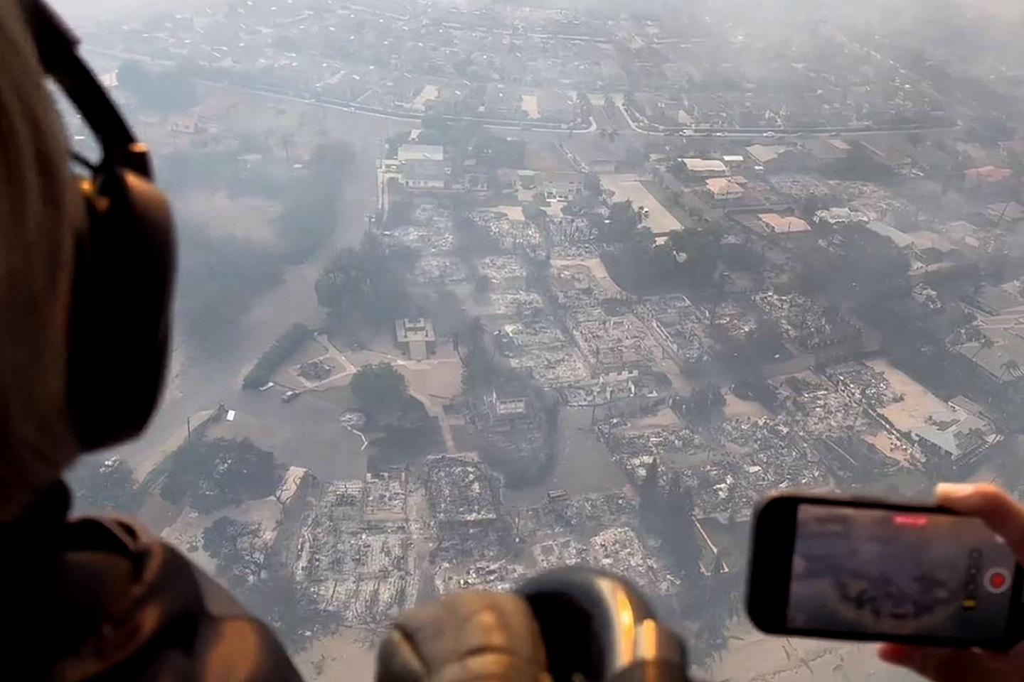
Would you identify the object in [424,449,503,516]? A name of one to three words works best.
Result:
house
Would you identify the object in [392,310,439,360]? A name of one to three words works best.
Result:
building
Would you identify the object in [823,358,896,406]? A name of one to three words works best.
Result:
house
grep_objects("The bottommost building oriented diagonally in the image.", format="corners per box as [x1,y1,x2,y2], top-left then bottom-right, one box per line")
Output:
[590,524,676,595]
